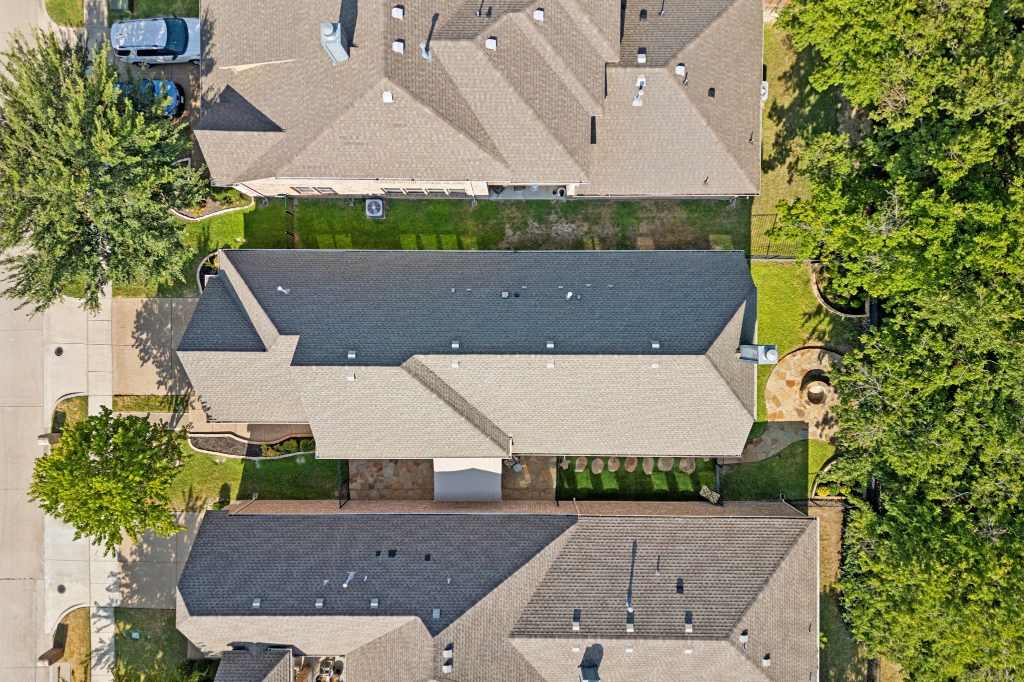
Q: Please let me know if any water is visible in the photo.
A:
No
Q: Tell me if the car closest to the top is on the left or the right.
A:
left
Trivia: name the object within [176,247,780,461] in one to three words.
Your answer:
house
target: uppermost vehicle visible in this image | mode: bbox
[101,12,198,72]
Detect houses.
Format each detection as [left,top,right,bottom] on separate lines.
[175,493,820,682]
[176,247,780,461]
[194,0,764,207]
